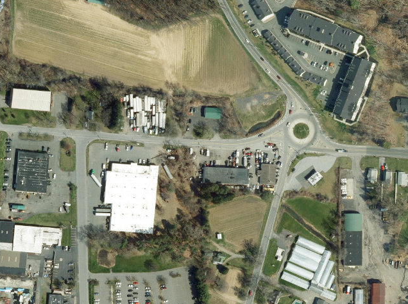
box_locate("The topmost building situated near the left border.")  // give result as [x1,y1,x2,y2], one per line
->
[11,88,51,111]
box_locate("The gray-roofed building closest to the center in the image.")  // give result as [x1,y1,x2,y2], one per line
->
[202,167,250,184]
